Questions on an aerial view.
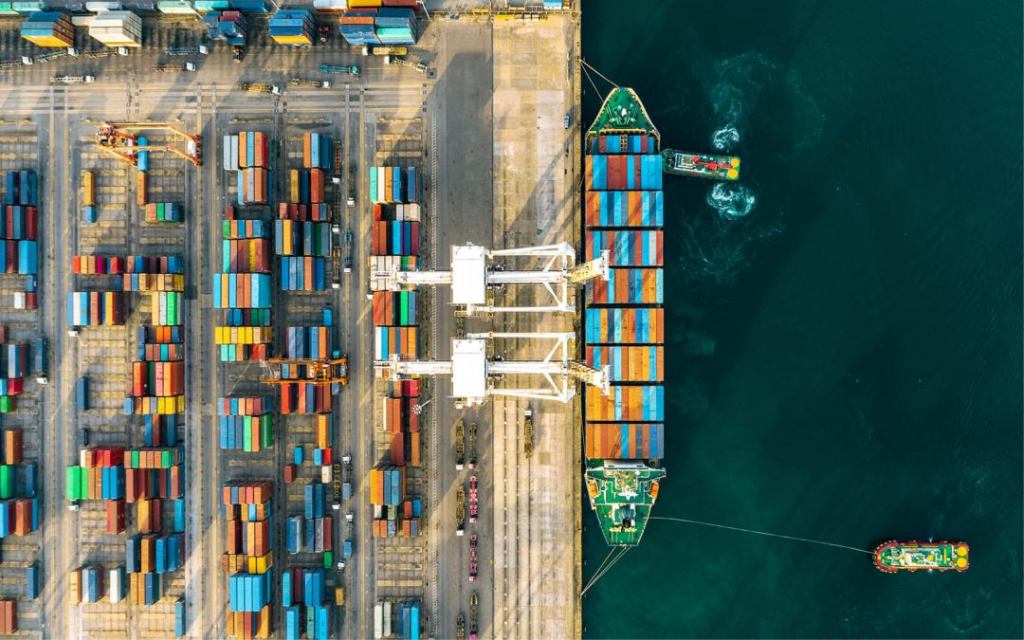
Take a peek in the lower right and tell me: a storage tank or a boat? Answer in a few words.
boat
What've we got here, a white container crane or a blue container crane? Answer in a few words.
white container crane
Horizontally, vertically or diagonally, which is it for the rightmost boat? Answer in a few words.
horizontally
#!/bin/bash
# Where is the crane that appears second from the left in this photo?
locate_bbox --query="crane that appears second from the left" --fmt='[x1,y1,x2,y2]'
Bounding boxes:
[258,352,349,387]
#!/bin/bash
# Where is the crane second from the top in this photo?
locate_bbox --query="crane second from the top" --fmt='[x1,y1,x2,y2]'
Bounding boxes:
[371,243,610,319]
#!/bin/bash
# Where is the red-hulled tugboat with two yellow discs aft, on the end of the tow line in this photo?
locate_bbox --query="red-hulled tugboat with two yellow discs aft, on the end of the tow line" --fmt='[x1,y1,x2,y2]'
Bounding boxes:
[871,542,970,574]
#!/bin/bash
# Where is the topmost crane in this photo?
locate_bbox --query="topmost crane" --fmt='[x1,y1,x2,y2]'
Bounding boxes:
[95,123,200,164]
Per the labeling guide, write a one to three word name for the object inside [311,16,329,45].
work vehicle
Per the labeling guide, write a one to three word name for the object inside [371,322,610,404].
container crane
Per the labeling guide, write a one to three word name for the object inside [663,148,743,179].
boat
